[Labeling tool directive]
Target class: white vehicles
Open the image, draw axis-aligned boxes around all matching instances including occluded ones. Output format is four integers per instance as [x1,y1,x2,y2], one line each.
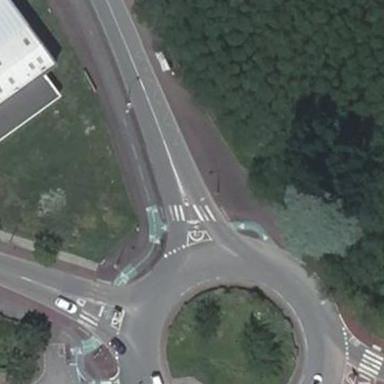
[55,296,78,313]
[312,374,323,384]
[152,373,164,384]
